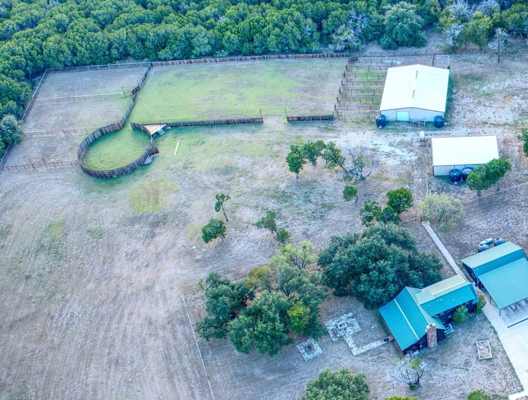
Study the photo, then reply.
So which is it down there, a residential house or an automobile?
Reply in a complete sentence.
There is a residential house in the scene.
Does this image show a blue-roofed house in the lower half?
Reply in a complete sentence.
Yes, a blue-roofed house is visible in the lower half.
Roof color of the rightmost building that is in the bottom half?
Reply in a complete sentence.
The color of the roof on the rightmost building that is in the bottom half is blue.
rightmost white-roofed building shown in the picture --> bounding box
[433,136,499,174]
